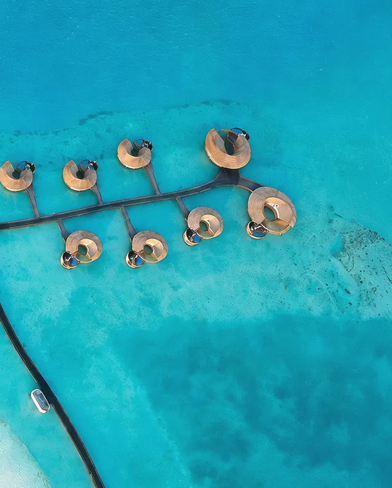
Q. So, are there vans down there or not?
No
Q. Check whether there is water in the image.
Yes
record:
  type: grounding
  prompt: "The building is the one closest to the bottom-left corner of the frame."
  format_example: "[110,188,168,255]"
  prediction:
[62,232,102,269]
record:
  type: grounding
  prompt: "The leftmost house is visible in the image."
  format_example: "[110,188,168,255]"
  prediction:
[0,161,34,193]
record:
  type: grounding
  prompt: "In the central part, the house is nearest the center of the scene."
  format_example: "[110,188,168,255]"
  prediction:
[182,209,224,246]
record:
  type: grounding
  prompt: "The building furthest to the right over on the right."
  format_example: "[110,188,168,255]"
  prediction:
[245,189,298,239]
